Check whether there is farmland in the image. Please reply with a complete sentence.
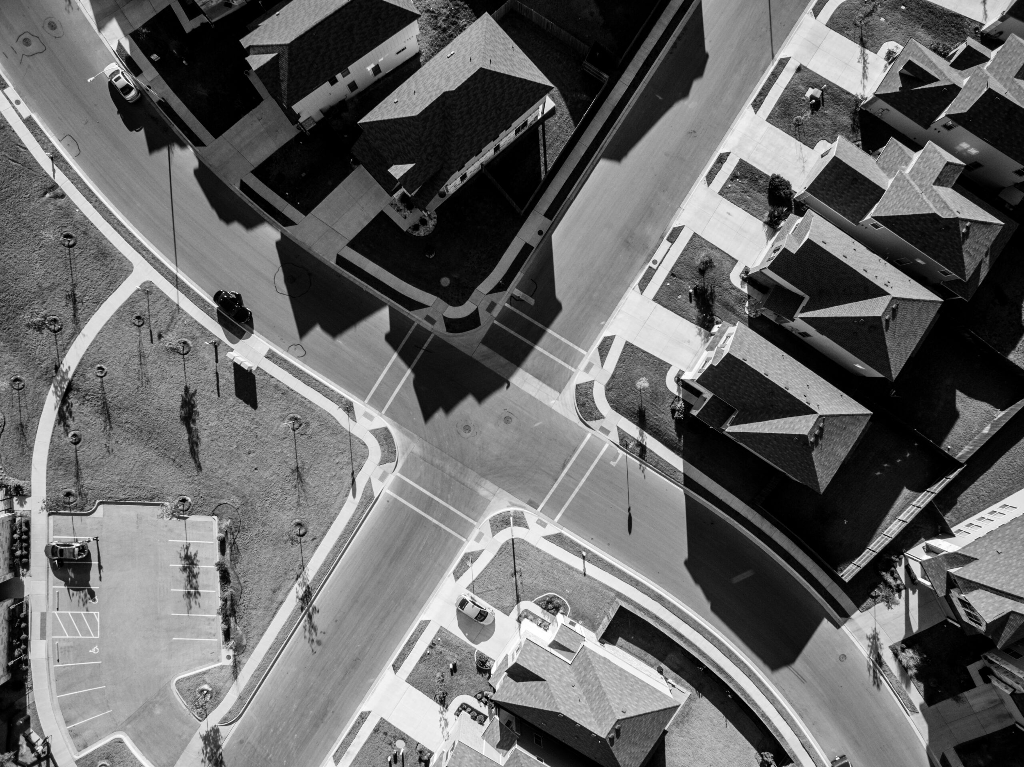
No, there's no farmland in this view.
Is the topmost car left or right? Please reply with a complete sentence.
The topmost car appears in the left half of the scene.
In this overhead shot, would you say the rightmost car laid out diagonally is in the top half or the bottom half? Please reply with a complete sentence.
The bottom half of the photo is where the rightmost car laid out diagonally is.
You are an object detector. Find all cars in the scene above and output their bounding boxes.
[451,593,496,628]
[208,285,255,325]
[829,757,851,767]
[44,540,91,570]
[104,60,142,107]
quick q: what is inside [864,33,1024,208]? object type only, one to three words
house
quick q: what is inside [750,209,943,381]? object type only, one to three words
house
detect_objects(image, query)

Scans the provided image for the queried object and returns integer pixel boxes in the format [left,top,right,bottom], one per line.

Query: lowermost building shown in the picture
[433,716,551,767]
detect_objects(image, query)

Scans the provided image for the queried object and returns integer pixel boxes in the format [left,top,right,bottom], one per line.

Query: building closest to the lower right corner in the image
[992,649,1024,725]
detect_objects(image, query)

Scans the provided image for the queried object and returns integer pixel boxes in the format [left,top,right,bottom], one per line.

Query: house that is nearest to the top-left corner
[194,0,251,29]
